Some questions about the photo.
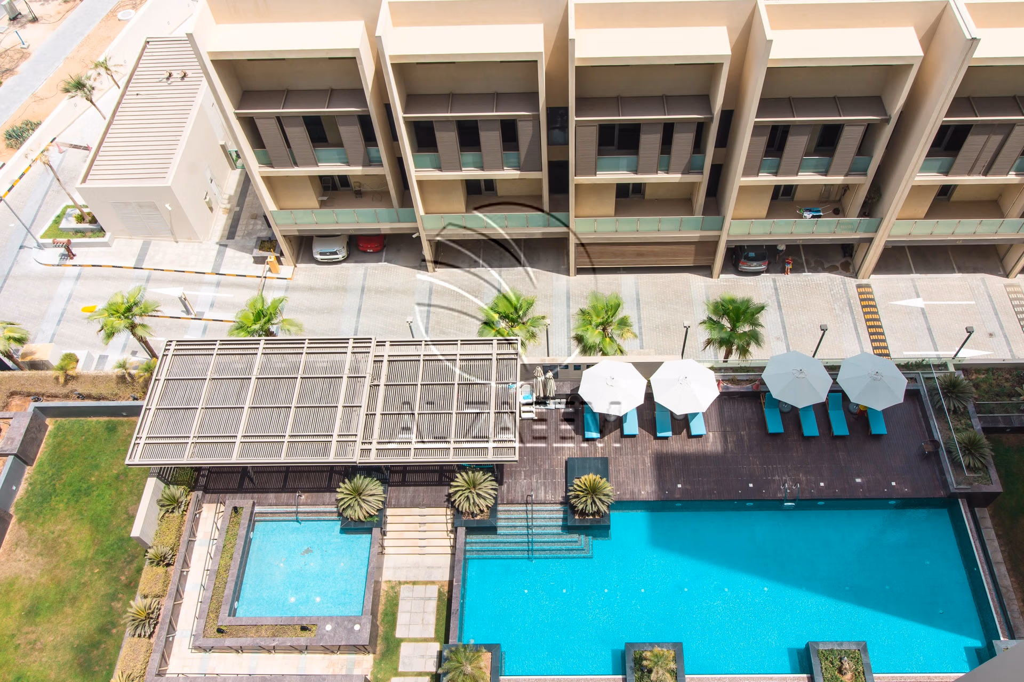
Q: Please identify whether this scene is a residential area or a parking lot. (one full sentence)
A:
The area seen from above is a residential area.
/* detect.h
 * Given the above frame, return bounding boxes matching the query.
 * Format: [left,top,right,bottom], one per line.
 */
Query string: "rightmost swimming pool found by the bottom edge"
[447,497,1011,682]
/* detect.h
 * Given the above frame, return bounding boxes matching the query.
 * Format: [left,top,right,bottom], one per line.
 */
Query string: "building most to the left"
[77,35,233,242]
